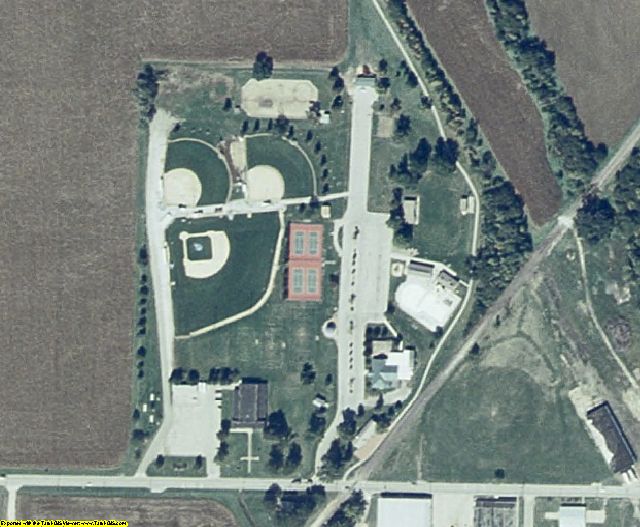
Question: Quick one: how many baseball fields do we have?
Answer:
3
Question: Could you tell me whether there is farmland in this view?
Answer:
Yes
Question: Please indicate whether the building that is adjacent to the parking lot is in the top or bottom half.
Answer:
bottom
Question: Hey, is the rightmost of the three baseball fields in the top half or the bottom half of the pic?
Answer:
top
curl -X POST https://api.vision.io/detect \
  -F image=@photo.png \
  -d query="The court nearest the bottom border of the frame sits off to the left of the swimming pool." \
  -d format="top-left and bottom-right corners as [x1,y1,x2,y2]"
[288,260,322,300]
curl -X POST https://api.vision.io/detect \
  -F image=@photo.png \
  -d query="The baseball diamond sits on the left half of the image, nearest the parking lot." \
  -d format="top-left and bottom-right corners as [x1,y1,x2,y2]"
[168,206,285,338]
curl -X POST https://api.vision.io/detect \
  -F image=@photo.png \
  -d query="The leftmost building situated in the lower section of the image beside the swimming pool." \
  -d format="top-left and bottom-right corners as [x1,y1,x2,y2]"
[372,341,414,390]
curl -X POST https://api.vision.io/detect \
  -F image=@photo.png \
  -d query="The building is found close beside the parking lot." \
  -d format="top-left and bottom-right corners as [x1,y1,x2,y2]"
[232,383,268,428]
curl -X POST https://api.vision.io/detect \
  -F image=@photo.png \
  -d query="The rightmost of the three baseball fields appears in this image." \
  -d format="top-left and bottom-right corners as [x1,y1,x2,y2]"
[231,133,317,202]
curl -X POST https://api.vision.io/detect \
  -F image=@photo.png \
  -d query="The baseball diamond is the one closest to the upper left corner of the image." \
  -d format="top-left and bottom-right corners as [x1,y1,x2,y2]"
[163,138,233,206]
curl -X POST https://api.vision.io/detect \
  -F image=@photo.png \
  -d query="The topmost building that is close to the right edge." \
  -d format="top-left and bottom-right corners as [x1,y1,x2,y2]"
[586,403,637,473]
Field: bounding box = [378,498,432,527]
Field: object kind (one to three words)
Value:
building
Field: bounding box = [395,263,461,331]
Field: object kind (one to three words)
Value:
swimming pool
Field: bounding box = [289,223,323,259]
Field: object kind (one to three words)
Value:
tennis court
